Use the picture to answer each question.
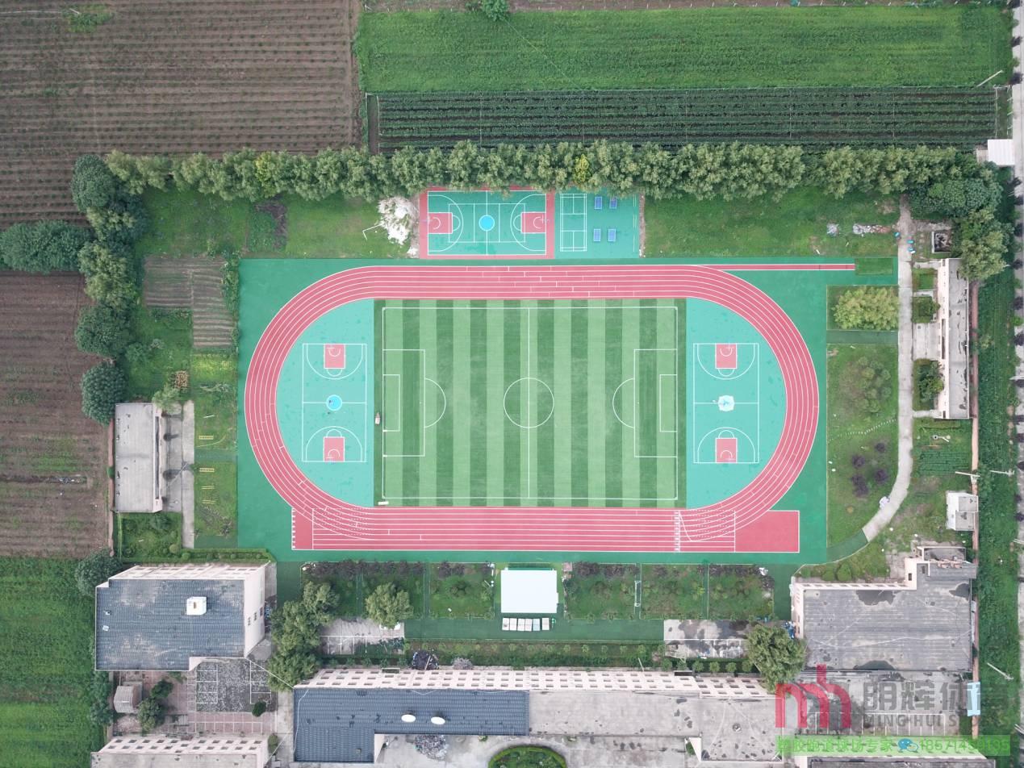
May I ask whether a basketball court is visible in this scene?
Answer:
Yes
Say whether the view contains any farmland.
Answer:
Yes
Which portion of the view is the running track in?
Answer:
center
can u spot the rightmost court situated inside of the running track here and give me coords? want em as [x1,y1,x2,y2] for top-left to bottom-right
[693,343,759,463]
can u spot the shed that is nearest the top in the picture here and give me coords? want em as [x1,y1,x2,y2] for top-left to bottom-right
[972,139,1015,170]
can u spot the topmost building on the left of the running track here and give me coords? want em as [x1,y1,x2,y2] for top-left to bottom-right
[115,402,164,512]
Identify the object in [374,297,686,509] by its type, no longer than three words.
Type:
soccer field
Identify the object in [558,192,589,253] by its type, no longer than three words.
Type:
sports court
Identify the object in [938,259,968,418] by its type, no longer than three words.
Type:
building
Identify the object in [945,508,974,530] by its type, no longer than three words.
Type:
shed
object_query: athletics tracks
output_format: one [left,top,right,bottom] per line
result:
[245,263,855,553]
